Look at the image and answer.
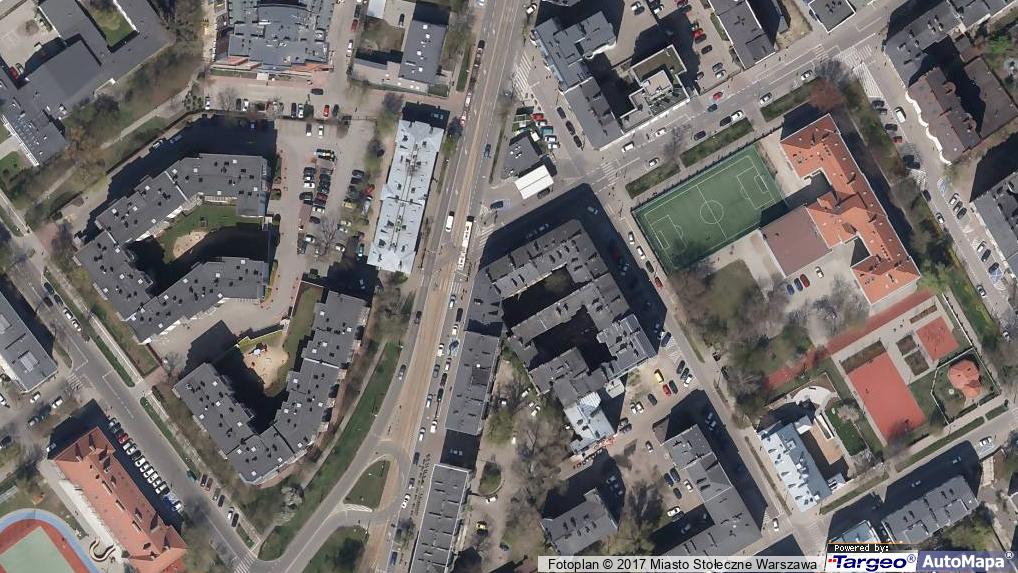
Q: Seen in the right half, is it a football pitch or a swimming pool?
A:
football pitch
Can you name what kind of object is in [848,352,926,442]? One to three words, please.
sports court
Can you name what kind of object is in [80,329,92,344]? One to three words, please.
vehicle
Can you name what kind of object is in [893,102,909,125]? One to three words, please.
vehicle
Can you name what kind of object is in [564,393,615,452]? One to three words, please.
house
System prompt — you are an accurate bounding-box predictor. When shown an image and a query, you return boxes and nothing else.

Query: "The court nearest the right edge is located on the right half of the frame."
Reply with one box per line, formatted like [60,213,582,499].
[917,317,959,360]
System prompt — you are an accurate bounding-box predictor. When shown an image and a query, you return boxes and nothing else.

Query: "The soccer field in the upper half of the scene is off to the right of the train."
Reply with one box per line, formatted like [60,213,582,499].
[631,144,790,277]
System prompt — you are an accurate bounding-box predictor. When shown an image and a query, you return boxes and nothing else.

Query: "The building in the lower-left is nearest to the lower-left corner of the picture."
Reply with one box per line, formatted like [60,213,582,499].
[54,426,192,573]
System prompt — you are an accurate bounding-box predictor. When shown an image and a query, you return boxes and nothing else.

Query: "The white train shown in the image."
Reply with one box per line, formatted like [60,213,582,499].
[455,220,474,271]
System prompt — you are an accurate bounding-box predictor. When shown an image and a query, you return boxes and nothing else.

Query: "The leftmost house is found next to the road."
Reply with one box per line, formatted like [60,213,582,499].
[0,286,61,391]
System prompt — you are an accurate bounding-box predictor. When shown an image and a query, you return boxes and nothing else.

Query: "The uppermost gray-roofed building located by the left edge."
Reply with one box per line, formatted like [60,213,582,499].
[0,0,172,167]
